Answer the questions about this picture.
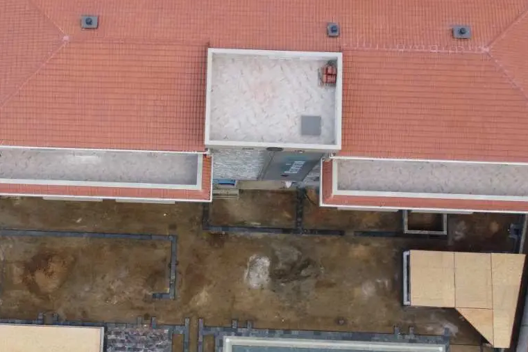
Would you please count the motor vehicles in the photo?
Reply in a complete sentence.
Not a single motor vehicle can be seen.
